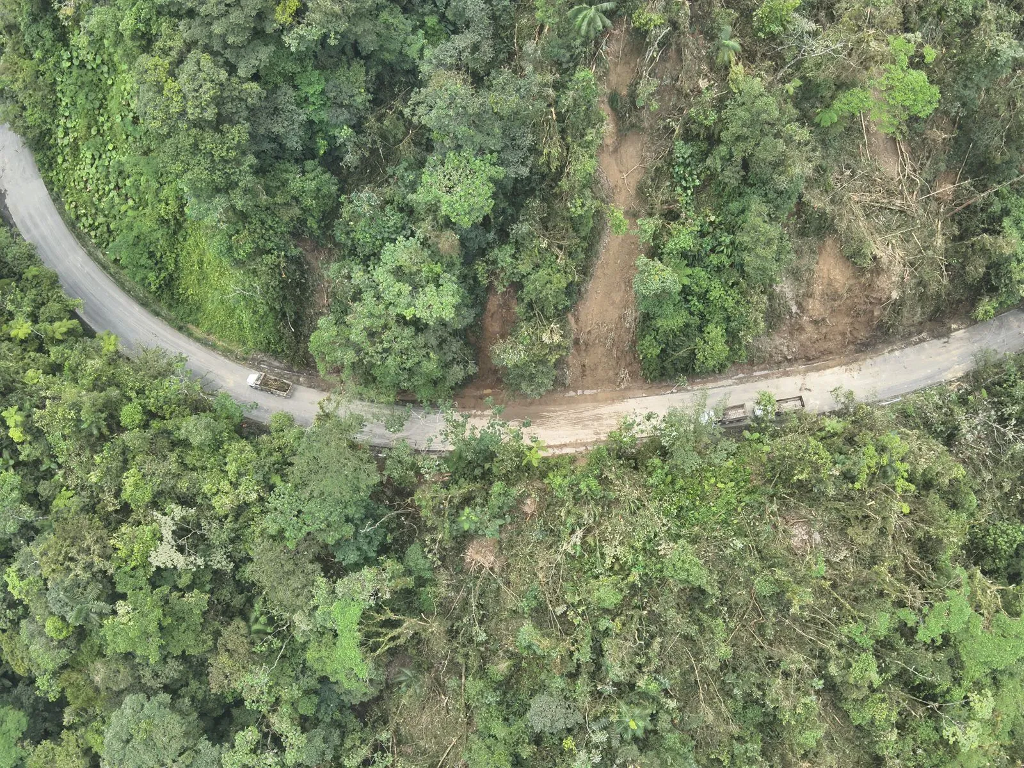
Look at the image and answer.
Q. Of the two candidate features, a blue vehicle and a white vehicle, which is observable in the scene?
white vehicle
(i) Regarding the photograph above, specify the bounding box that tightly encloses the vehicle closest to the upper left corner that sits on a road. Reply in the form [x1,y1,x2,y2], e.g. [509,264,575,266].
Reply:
[243,368,293,397]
